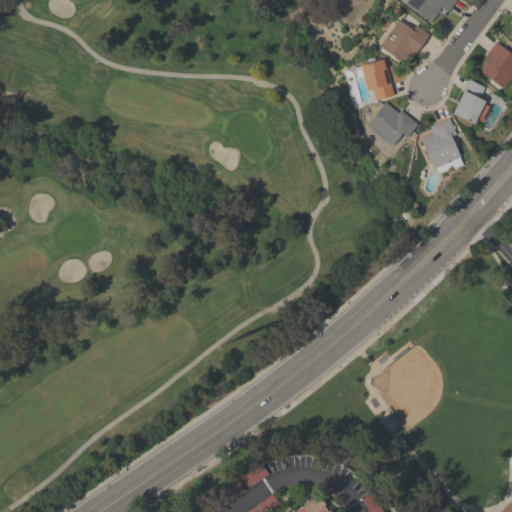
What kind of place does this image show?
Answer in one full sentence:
The picture captures a golf course.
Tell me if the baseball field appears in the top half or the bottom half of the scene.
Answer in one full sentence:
The baseball field sits in the bottom half of the picture.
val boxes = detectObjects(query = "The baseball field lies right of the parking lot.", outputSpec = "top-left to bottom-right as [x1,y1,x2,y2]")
[372,296,512,500]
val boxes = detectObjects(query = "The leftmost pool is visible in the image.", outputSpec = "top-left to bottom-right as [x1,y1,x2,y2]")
[358,77,371,103]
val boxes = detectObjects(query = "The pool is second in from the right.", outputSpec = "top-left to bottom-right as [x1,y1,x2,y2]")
[426,172,438,192]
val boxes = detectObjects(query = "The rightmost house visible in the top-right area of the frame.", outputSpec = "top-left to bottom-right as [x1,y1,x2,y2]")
[483,42,512,89]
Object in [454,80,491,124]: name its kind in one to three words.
house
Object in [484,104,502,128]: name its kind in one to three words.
swimming pool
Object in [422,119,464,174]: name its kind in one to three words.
house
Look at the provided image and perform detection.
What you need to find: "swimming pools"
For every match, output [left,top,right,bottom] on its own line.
[484,104,502,128]
[426,172,438,192]
[358,77,371,103]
